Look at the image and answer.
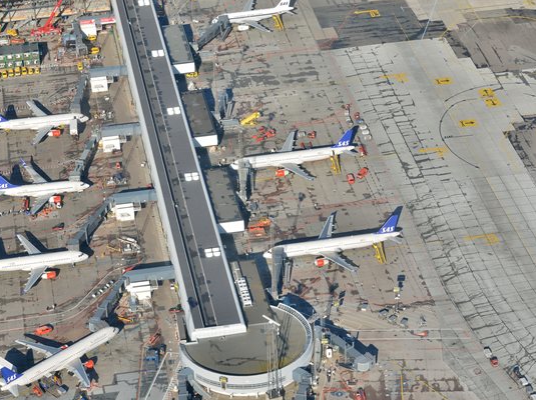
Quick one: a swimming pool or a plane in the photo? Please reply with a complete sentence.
I can see a plane in this picture.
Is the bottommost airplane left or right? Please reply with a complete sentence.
You can find the bottommost airplane on the left side of the picture.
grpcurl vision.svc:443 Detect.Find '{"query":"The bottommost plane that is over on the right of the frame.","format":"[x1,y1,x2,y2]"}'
[284,212,402,268]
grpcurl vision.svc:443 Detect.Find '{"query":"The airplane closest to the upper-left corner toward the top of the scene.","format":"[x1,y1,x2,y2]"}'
[0,101,91,145]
